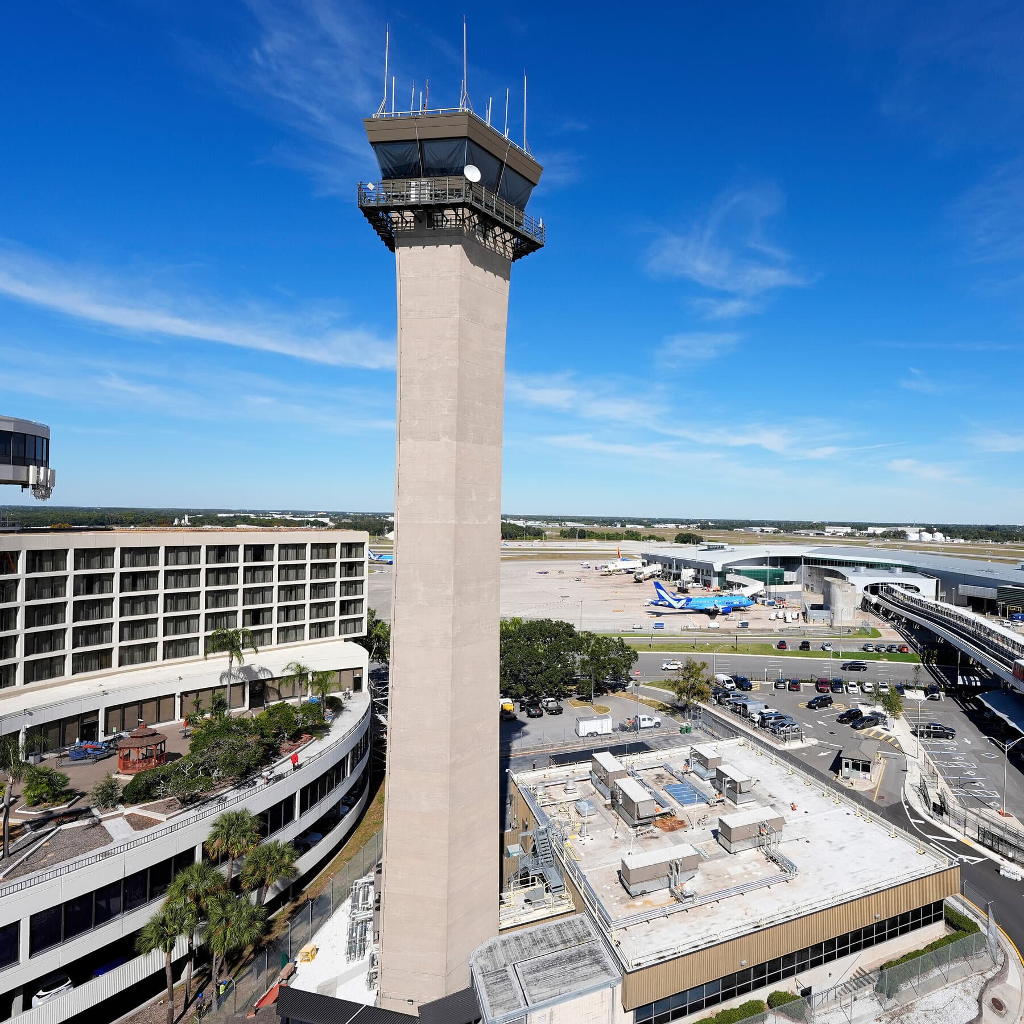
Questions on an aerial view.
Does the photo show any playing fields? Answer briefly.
No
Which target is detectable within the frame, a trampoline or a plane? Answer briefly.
plane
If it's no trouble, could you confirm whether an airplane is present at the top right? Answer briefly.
No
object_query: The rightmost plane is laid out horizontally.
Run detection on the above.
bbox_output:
[645,579,756,614]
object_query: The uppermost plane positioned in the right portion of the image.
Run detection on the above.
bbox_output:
[617,548,641,560]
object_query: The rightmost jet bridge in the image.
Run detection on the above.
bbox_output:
[741,577,767,601]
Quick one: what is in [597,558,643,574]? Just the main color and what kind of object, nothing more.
white jet bridge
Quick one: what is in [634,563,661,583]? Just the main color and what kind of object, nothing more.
white jet bridge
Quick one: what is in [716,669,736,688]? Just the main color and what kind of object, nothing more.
white vehicle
